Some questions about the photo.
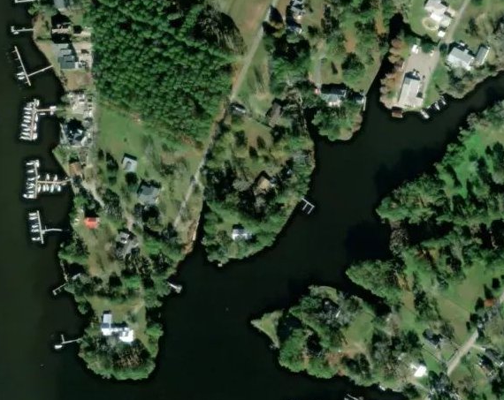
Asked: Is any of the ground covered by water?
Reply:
Yes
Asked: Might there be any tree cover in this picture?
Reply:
Yes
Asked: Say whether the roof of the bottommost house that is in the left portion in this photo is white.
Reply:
Yes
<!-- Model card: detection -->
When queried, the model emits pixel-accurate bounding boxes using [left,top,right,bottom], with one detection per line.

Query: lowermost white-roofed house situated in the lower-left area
[101,309,135,343]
